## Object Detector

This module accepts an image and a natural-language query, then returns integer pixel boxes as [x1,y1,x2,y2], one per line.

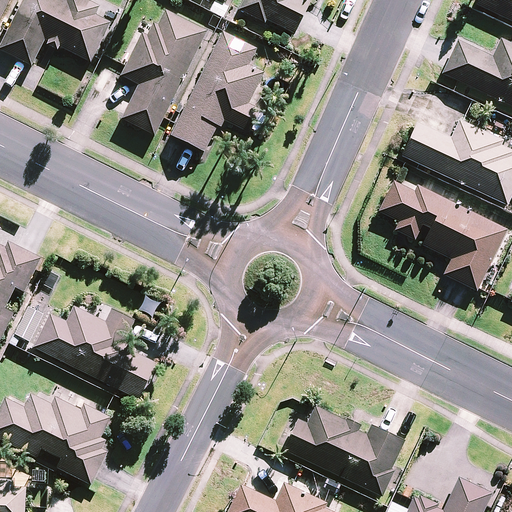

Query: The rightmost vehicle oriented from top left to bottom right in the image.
[258,470,278,494]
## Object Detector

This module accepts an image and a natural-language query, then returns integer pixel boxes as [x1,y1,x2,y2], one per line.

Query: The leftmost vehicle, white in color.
[4,62,24,88]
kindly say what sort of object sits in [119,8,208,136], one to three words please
house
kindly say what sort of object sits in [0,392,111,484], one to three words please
house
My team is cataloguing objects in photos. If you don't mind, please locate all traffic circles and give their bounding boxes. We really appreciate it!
[174,186,370,372]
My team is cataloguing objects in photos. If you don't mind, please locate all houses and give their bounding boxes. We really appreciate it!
[0,0,110,64]
[0,240,43,344]
[170,30,264,152]
[401,120,512,205]
[228,482,328,512]
[379,180,508,291]
[442,38,512,104]
[284,405,405,495]
[240,0,310,36]
[404,476,493,512]
[0,486,26,512]
[30,306,158,398]
[119,8,208,136]
[0,392,111,484]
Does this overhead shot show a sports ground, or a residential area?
residential area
